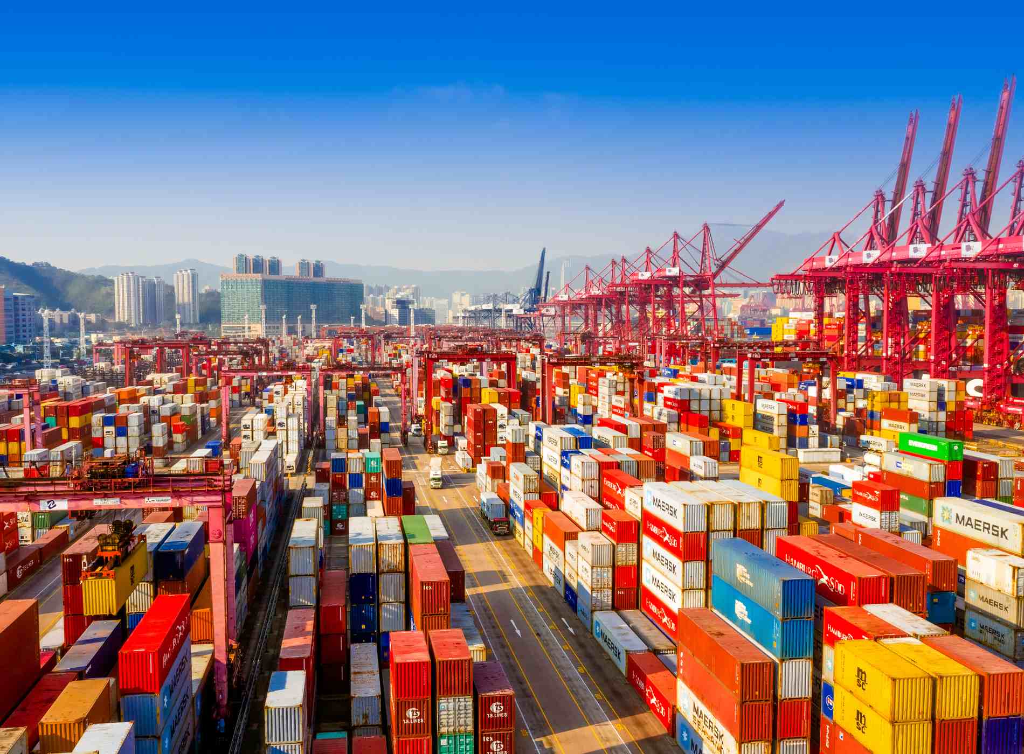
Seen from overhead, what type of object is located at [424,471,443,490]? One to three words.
vehicle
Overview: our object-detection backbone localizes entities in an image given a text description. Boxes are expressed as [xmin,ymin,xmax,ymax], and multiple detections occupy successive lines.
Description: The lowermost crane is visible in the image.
[0,448,248,752]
